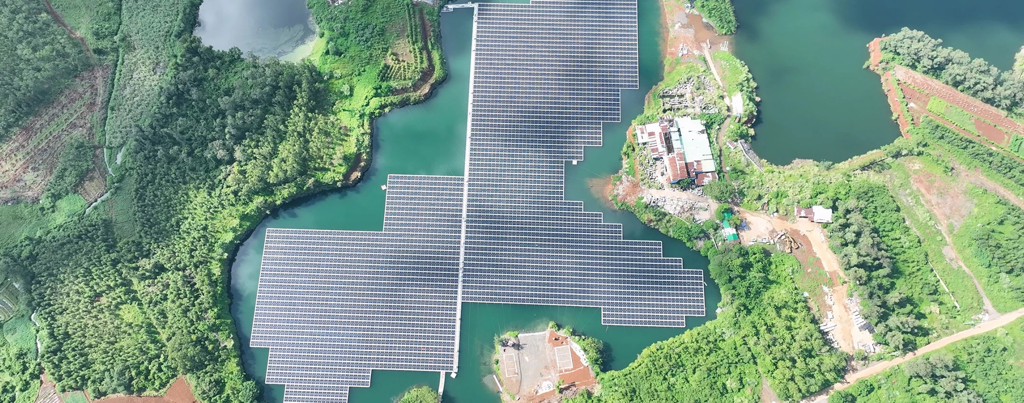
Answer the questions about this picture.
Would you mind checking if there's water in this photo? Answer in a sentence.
Yes, the picture does contain water.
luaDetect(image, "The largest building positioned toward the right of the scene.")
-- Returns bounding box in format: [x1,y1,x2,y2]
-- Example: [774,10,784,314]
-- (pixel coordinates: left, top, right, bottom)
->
[635,115,717,188]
